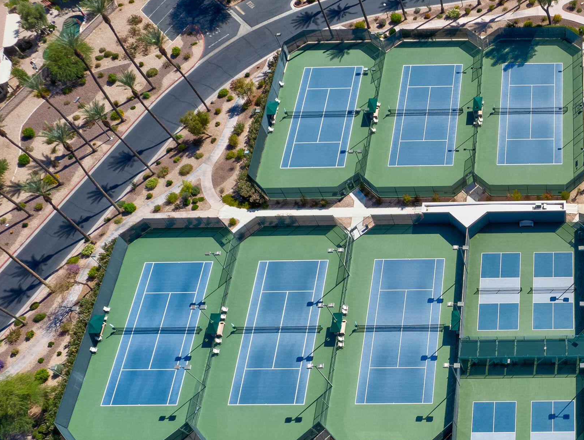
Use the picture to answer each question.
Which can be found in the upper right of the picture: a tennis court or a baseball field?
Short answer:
tennis court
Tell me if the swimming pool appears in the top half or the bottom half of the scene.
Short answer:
top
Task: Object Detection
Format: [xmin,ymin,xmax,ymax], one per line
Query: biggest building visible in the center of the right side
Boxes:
[422,199,566,239]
